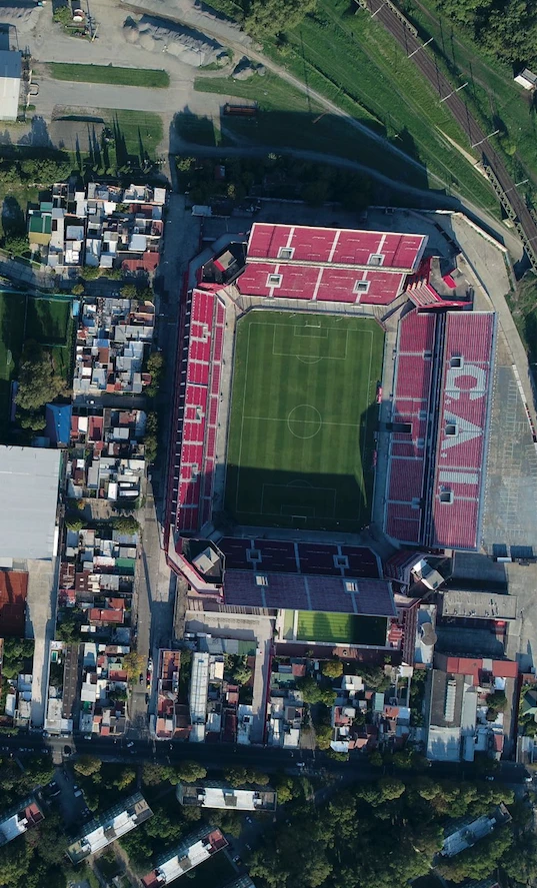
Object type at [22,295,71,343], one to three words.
soccer field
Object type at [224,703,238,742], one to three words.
house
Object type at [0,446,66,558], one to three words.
building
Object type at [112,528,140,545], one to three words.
house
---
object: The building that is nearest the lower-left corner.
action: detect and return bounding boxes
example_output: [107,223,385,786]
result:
[0,790,52,846]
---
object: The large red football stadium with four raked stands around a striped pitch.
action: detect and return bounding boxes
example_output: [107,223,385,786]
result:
[164,222,496,629]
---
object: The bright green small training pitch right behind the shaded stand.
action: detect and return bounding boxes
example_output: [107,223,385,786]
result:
[277,610,389,652]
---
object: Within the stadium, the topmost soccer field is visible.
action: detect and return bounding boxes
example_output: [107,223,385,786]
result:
[225,310,383,532]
